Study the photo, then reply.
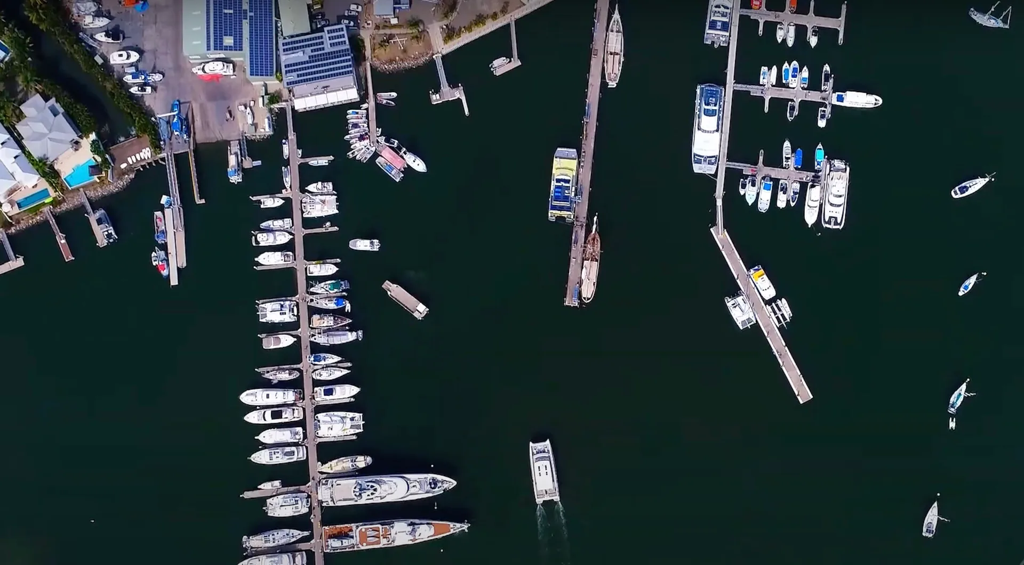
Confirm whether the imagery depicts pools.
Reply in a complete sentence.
Yes, there's a pool here.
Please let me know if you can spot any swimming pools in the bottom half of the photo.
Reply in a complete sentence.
No, the scene shows no swimming pool in the bottom half of the photo.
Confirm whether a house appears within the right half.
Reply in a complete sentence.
No, there's no house to be seen within the right half.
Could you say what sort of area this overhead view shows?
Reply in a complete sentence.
The picture captures a port.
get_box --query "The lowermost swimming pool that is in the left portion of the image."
[3,180,53,215]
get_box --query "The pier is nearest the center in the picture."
[565,224,587,306]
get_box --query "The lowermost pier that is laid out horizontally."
[249,540,315,555]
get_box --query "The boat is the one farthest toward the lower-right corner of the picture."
[923,501,953,536]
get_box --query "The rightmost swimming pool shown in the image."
[52,137,97,188]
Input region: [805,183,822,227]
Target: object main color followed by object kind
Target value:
white boat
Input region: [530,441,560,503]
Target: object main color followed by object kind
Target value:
white vessel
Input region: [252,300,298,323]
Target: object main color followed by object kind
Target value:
white boat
